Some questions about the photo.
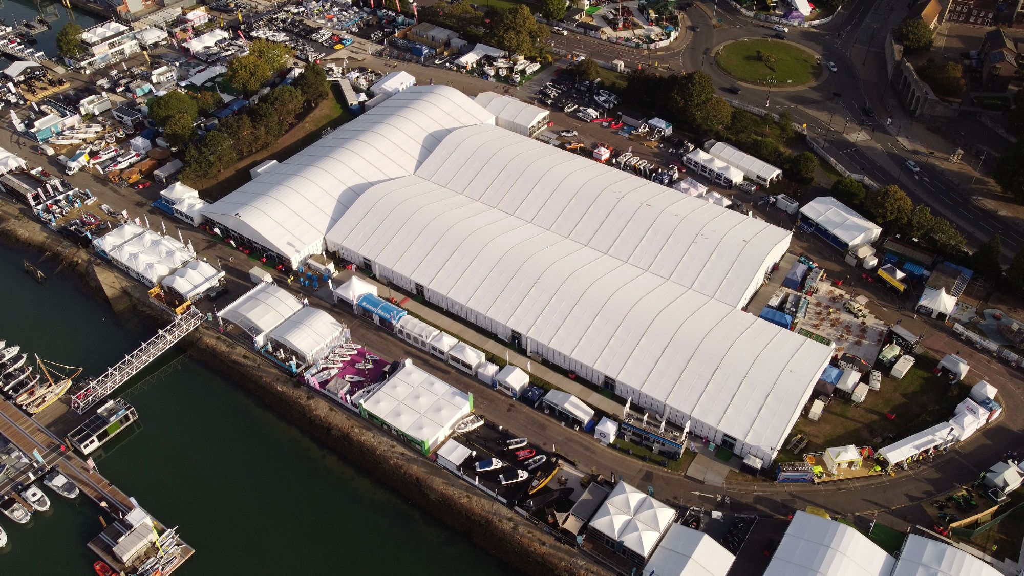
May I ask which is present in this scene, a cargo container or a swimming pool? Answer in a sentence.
Looking from above, you can make out a cargo container.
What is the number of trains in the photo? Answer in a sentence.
The picture shows no trains.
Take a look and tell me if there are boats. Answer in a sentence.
Yes, I can see a boat in this picture.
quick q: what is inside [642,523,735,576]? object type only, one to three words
tent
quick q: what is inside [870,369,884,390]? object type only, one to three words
vehicle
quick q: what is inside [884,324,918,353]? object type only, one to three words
building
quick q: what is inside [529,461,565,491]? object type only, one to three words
boat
